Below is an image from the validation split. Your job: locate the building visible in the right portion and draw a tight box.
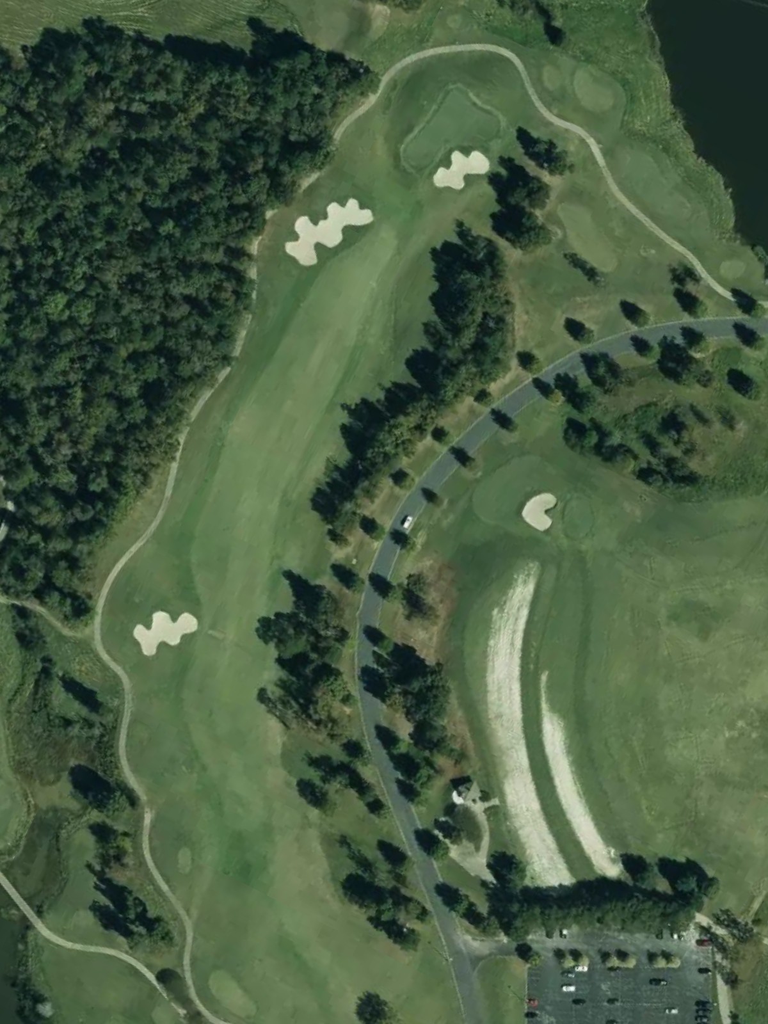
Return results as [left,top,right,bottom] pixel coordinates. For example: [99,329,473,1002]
[457,781,481,802]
